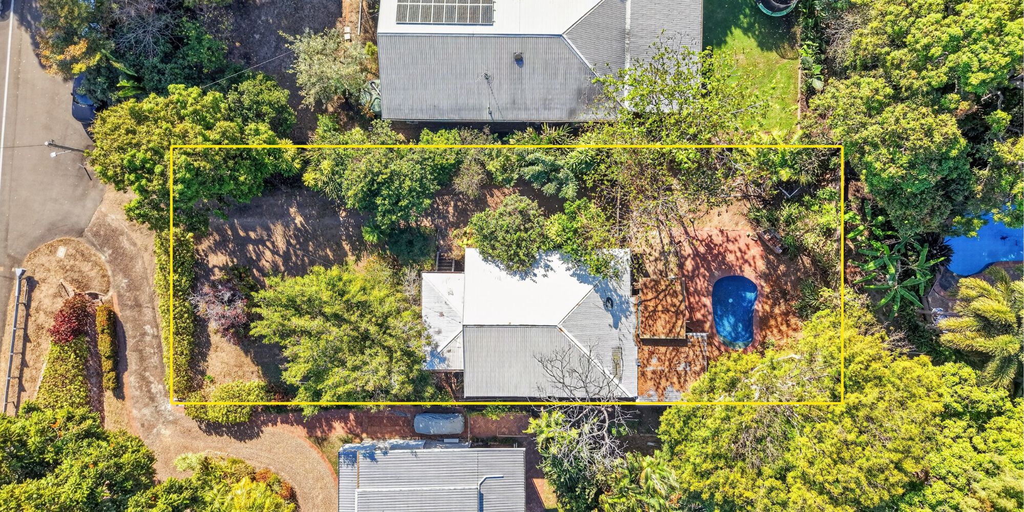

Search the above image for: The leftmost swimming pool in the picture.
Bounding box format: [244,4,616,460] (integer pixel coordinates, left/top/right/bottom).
[707,270,763,355]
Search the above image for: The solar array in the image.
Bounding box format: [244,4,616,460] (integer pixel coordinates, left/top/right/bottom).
[396,0,496,23]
